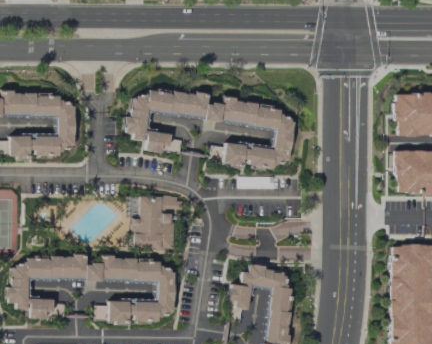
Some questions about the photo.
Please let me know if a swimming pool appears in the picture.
Yes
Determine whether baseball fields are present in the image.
No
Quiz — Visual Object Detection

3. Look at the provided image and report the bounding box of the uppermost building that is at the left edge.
[0,89,78,162]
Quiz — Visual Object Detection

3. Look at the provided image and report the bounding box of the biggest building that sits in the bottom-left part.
[5,254,176,325]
